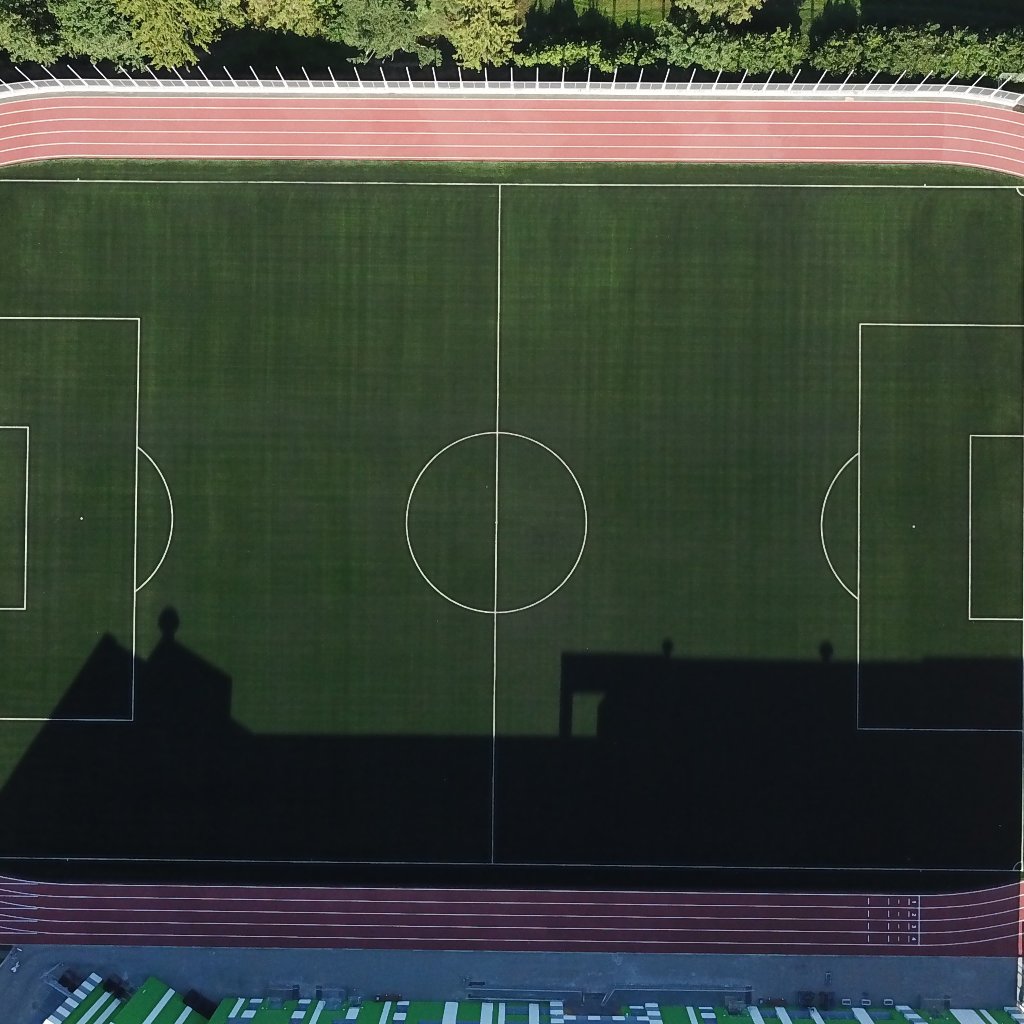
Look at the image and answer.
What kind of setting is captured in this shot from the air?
sports ground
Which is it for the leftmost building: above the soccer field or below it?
below it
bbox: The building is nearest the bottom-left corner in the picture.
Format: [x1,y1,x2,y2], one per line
[44,971,130,1024]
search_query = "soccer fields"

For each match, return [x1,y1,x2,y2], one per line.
[0,175,1024,876]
